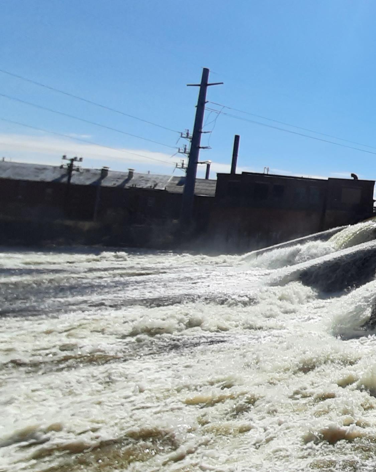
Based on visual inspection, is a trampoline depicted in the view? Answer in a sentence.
No, the frame has no trampoline in it.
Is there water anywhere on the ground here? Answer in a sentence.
Yes, water shows up in the scene.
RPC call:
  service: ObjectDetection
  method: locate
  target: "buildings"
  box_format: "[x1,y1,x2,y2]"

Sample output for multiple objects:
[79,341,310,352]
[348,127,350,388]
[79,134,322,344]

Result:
[213,134,376,254]
[0,157,185,238]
